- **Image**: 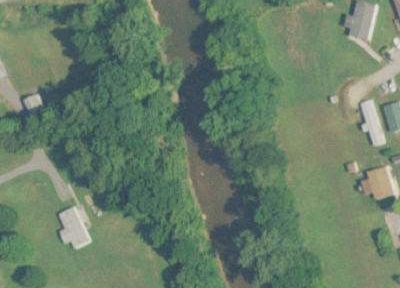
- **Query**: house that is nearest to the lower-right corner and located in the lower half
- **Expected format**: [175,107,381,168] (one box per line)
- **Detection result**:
[362,166,400,200]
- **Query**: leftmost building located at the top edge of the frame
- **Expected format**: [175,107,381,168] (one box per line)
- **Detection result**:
[345,1,378,41]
